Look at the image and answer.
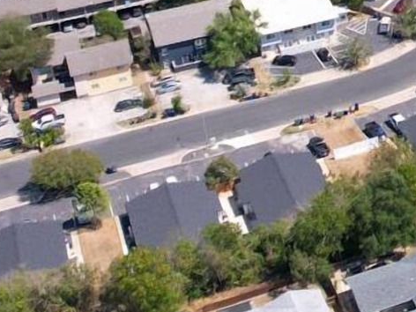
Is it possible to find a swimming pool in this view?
No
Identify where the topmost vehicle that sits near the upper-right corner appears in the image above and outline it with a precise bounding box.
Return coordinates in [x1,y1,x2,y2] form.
[394,0,408,12]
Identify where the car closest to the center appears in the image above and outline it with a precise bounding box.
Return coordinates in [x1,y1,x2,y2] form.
[157,107,183,119]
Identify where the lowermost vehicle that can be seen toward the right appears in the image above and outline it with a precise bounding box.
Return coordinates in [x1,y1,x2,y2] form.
[309,137,327,155]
